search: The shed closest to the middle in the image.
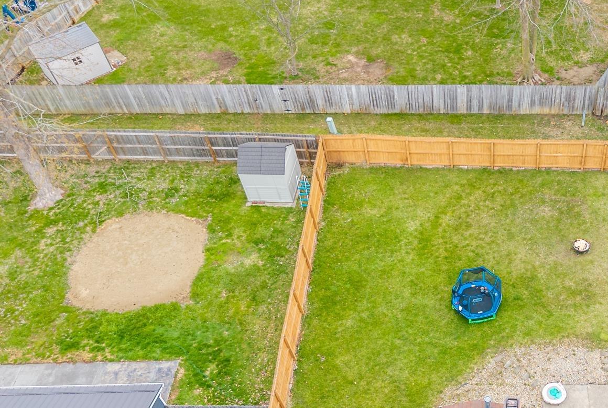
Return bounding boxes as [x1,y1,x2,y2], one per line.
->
[233,146,304,207]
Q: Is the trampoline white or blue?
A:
blue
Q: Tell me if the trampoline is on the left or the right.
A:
right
